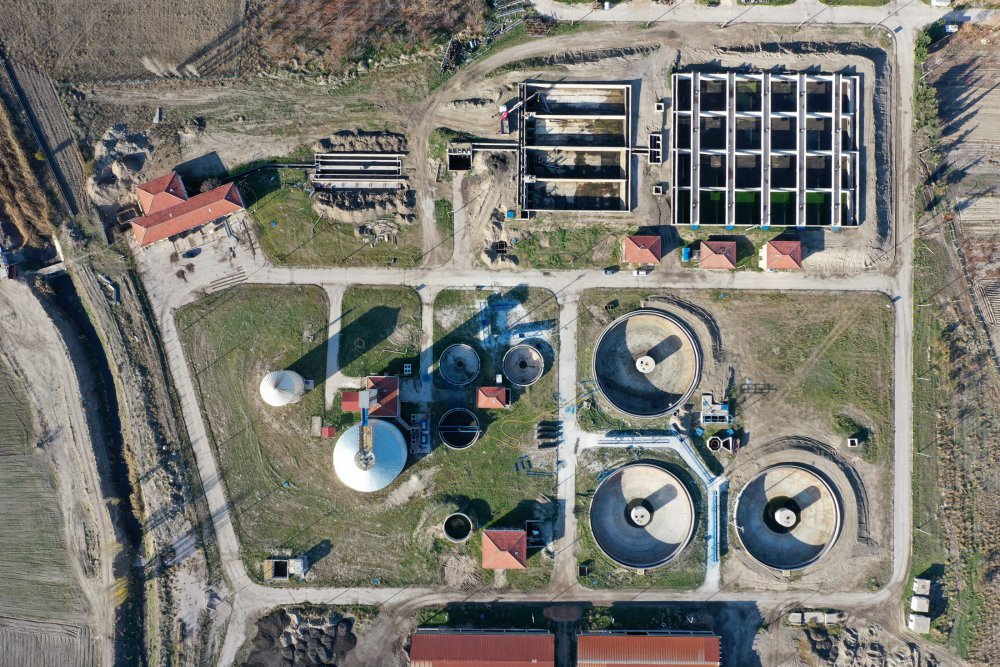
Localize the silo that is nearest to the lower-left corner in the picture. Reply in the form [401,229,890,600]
[259,370,304,408]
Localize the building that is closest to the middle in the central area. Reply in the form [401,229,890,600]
[478,387,506,408]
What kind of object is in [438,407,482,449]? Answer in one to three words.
storage tank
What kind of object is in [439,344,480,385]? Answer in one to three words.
storage tank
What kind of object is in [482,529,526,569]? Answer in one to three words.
building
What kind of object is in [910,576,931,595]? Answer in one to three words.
building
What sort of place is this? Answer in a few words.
industrial area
